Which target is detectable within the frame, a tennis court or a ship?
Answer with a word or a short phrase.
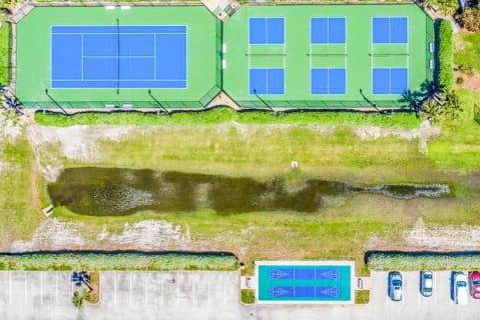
tennis court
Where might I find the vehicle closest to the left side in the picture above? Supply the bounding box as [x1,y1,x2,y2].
[390,271,404,301]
